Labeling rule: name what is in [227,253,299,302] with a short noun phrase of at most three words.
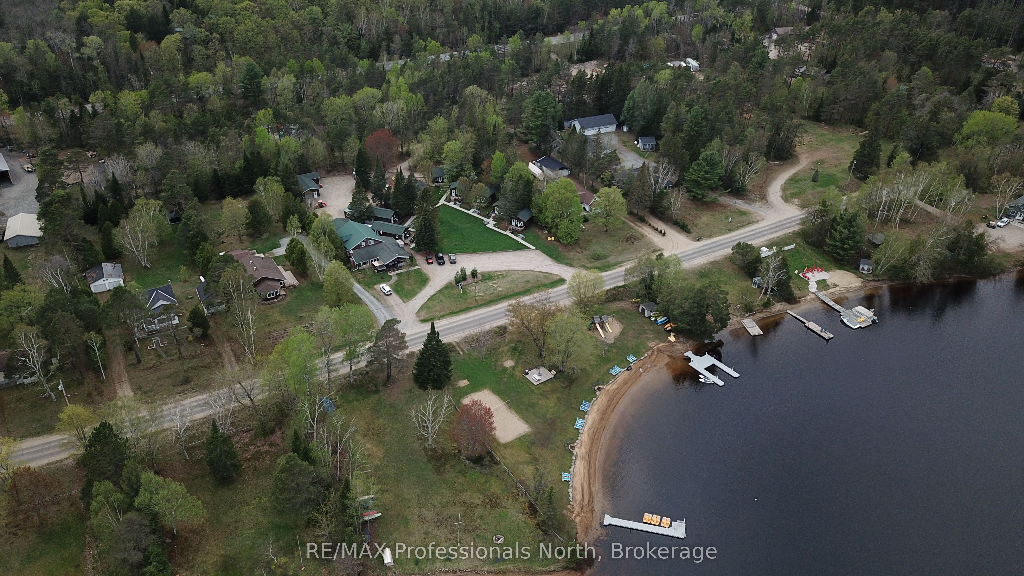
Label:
house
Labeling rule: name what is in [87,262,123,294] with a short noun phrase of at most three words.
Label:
building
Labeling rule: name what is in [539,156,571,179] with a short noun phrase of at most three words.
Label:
building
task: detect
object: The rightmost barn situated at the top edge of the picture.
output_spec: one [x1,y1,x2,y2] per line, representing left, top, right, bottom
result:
[770,26,814,42]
